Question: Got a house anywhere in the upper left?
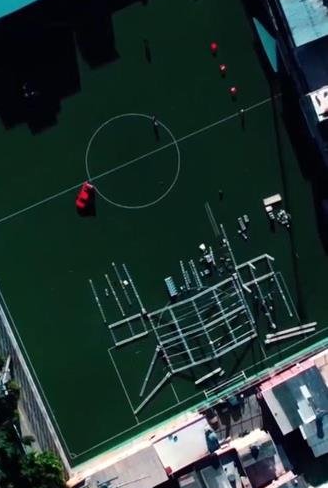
No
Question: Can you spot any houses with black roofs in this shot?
Yes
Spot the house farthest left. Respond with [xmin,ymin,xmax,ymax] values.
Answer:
[87,440,169,488]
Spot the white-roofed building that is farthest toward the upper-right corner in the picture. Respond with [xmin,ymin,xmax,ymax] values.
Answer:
[298,88,328,124]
